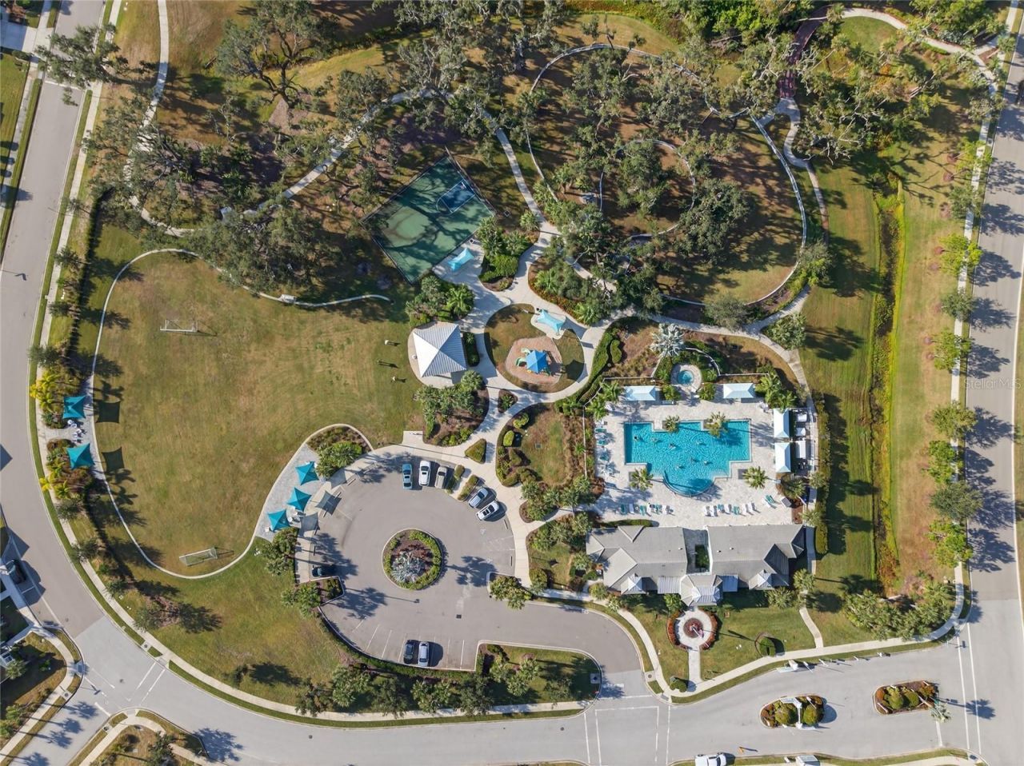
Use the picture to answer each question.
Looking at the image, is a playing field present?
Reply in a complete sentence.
Yes, a playing field can be made out from above.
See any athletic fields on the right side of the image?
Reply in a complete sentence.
No, the scene shows no athletic field on the right side of the image.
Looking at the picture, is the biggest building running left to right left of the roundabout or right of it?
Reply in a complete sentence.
Compared with the roundabout, the biggest building running left to right is located further to the right.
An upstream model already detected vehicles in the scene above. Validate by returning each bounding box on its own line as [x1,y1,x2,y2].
[417,639,430,668]
[694,754,726,766]
[311,564,337,577]
[401,462,413,489]
[417,460,431,488]
[467,486,493,510]
[475,499,502,522]
[403,637,416,665]
[435,463,448,490]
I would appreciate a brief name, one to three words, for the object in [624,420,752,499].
swimming pool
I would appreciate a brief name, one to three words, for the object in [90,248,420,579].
sports field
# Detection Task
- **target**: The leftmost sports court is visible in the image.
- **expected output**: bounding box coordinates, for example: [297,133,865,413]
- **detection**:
[363,155,497,284]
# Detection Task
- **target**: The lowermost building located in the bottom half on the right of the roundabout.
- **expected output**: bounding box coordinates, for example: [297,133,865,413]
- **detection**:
[586,524,804,606]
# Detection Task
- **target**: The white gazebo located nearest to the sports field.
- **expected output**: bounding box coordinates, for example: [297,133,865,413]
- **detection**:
[413,324,466,377]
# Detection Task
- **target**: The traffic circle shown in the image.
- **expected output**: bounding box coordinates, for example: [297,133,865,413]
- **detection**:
[381,529,443,591]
